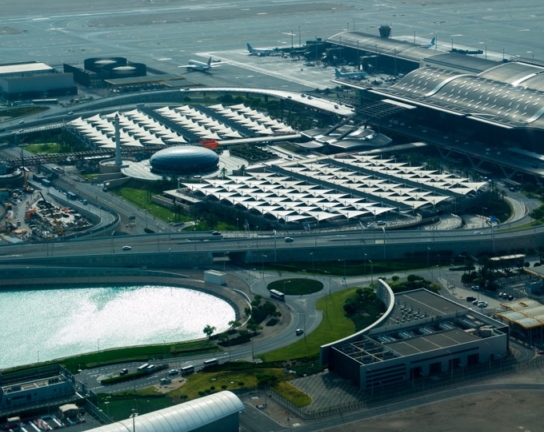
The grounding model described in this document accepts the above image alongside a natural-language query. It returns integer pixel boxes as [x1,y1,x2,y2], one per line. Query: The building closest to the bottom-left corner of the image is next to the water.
[0,374,71,410]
